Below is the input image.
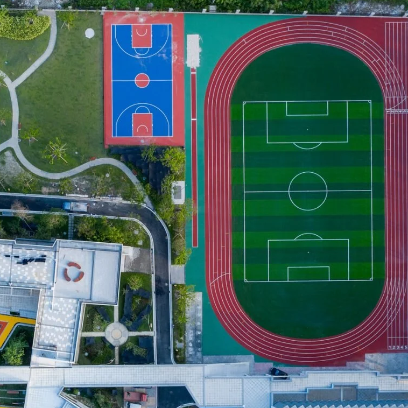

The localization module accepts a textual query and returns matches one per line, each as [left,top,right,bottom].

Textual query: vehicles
[126,403,142,408]
[124,392,149,404]
[64,200,88,211]
[270,366,290,379]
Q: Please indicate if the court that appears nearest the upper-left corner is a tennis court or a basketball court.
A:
basketball court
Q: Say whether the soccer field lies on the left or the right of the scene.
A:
right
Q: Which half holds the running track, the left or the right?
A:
right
